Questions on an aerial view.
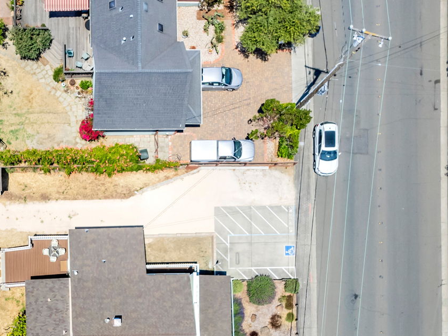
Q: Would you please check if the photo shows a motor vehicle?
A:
Yes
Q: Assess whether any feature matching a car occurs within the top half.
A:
Yes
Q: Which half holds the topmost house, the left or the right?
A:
left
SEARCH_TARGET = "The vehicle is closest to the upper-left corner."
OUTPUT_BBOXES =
[202,63,244,91]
